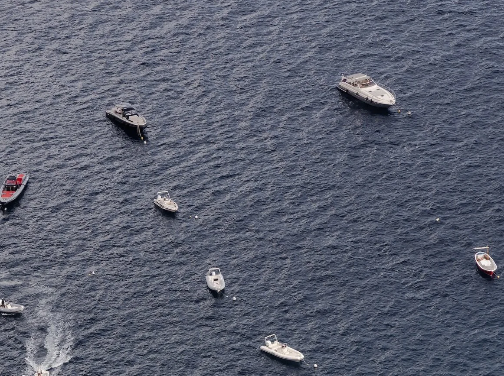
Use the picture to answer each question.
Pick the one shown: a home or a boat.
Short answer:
boat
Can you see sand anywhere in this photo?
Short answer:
No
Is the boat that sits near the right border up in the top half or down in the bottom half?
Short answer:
bottom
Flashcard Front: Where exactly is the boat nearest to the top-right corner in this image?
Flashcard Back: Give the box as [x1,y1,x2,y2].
[340,73,396,109]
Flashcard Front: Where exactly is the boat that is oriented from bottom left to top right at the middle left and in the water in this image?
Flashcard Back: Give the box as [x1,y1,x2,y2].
[0,172,30,207]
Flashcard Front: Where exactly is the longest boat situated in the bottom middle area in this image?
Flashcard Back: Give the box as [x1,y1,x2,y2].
[258,335,307,364]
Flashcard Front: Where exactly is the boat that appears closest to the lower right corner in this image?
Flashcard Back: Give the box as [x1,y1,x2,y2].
[474,244,494,276]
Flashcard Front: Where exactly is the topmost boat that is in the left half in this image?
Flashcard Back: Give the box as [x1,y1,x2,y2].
[106,102,145,137]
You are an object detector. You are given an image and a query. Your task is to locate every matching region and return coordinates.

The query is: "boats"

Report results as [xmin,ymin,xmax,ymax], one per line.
[340,73,396,109]
[0,301,24,311]
[152,190,178,211]
[206,267,227,297]
[0,172,30,207]
[474,244,494,276]
[258,335,307,364]
[106,102,145,137]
